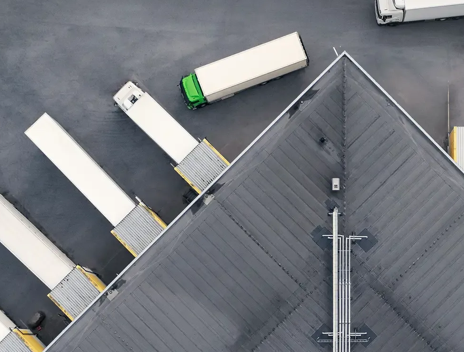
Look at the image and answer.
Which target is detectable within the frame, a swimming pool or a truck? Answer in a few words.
truck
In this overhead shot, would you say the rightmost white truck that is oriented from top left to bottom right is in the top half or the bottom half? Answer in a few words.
top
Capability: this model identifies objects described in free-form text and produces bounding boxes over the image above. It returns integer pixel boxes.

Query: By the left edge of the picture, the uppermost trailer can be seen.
[21,109,137,226]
